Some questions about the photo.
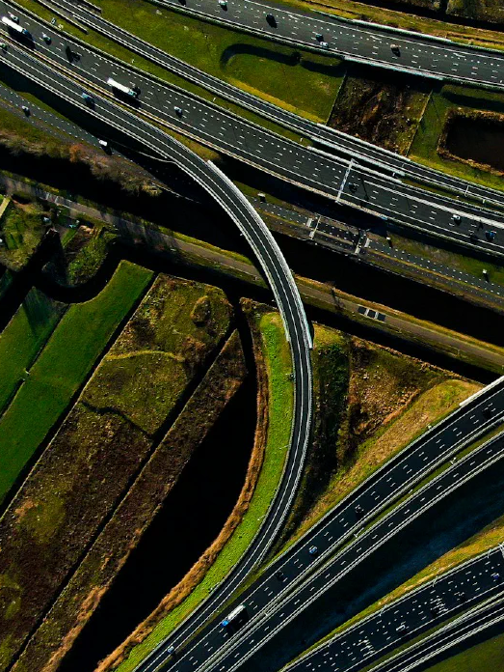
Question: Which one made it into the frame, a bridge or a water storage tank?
bridge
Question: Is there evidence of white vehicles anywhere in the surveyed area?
Yes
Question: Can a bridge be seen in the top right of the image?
Yes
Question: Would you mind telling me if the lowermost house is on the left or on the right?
left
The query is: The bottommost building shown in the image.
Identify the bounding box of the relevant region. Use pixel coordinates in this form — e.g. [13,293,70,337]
[40,229,62,256]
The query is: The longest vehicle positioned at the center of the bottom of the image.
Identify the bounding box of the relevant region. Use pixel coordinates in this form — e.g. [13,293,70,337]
[220,603,247,627]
